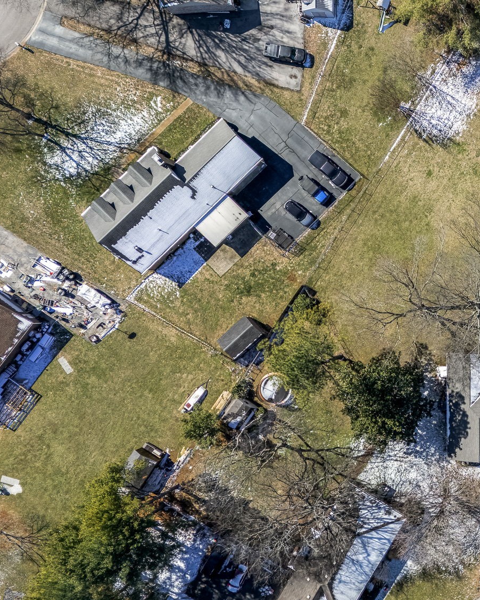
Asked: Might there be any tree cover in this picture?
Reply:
Yes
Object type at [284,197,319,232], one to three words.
car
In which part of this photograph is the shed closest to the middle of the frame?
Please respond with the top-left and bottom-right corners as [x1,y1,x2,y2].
[217,317,266,360]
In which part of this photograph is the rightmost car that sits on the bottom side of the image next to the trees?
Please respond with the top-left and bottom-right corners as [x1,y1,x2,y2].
[224,559,250,598]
